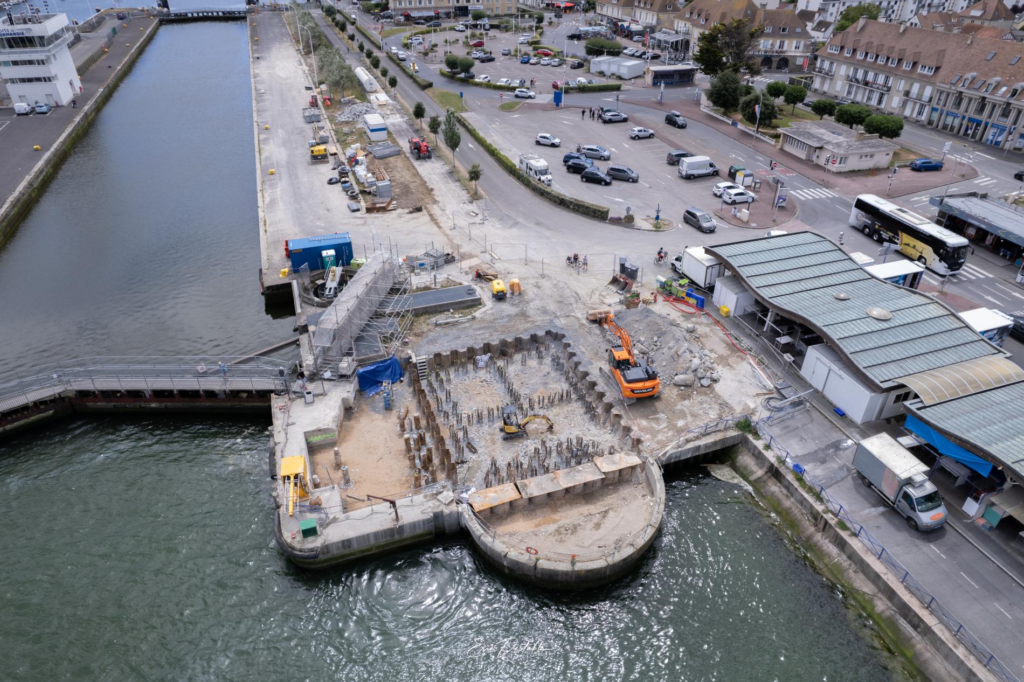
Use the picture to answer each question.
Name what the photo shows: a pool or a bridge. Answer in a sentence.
Looking from above, you can make out a bridge.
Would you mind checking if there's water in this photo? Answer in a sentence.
Yes, some water is visible.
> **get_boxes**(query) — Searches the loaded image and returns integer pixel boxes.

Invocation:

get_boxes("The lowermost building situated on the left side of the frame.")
[362,116,387,140]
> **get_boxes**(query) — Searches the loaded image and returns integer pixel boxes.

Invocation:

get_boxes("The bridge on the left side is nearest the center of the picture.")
[309,242,435,398]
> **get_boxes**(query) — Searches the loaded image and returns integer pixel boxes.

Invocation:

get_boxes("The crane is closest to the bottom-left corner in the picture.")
[274,455,313,520]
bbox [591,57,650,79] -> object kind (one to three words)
building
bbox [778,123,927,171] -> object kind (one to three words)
house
